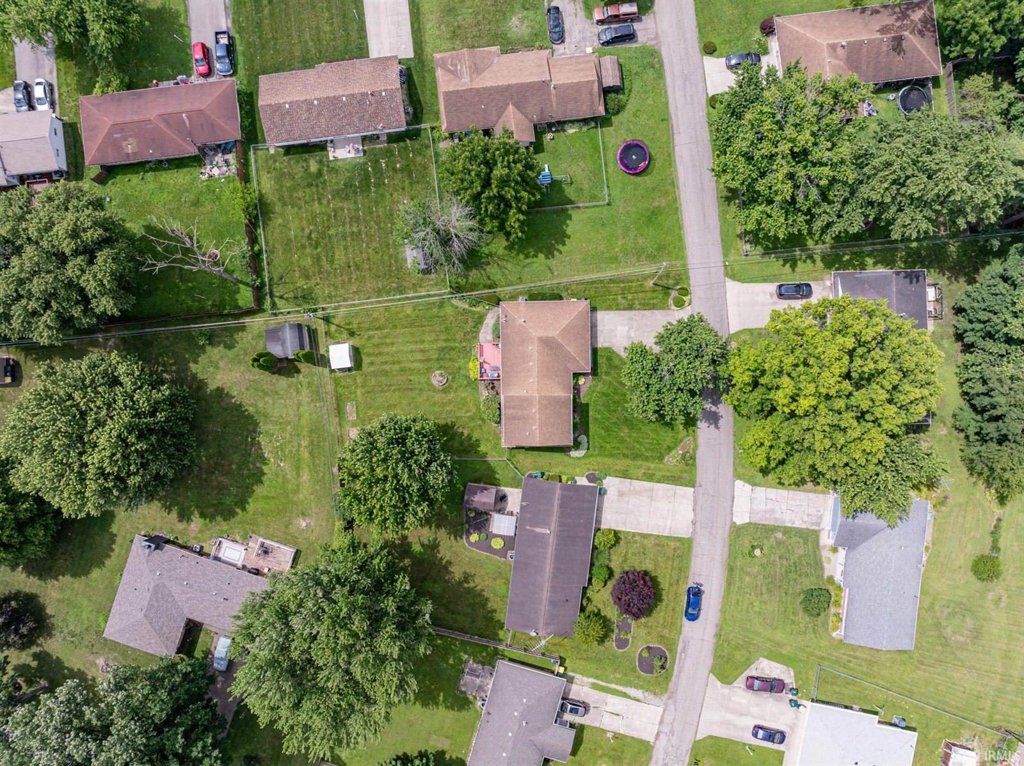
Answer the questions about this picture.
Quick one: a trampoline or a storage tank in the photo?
trampoline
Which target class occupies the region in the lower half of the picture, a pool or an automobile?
automobile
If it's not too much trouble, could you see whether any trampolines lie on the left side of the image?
No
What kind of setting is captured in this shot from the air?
residential area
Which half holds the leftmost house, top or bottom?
top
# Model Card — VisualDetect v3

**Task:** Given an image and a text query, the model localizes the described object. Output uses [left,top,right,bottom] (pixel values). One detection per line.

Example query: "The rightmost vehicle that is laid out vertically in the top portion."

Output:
[546,6,564,45]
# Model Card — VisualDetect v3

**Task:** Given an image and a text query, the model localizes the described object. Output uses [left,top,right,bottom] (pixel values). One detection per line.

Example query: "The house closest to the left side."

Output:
[0,109,71,192]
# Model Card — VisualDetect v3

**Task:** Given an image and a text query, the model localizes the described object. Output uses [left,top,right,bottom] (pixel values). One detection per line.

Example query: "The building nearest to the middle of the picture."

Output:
[500,300,591,447]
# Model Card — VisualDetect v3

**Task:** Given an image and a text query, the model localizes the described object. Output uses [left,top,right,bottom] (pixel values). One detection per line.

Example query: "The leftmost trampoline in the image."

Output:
[616,140,650,174]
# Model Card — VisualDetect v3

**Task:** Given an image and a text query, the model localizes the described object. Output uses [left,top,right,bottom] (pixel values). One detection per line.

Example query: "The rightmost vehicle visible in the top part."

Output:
[775,283,813,300]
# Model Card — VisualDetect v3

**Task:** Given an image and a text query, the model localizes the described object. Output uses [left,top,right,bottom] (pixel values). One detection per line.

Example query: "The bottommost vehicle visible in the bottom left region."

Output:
[210,633,234,673]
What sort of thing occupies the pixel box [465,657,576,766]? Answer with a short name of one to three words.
house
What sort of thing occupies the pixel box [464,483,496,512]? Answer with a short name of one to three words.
shed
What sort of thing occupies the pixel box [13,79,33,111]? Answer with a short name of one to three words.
car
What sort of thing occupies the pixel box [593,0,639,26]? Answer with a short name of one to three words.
truck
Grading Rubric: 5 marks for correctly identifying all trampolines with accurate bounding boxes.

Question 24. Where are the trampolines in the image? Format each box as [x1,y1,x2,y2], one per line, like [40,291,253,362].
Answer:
[616,140,650,174]
[897,86,928,116]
